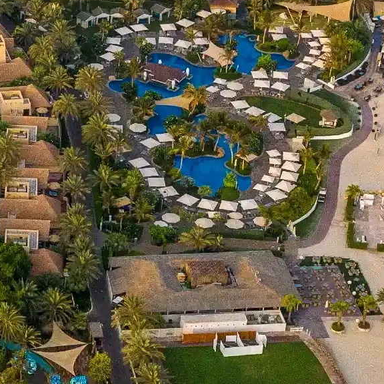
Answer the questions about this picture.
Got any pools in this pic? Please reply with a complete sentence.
Yes, a pool is visible in the scene.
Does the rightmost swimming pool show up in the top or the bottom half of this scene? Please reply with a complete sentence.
The rightmost swimming pool sits in the top half of the picture.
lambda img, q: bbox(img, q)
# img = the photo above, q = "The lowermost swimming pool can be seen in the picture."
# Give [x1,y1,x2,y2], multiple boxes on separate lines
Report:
[173,132,252,197]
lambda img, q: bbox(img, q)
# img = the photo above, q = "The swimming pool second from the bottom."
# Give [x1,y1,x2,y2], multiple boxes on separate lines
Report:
[145,107,207,133]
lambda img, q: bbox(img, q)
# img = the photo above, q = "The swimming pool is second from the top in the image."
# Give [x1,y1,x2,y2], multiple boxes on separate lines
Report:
[109,54,217,98]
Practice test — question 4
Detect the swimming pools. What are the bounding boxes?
[218,30,294,75]
[173,132,252,197]
[109,54,217,98]
[145,107,207,133]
